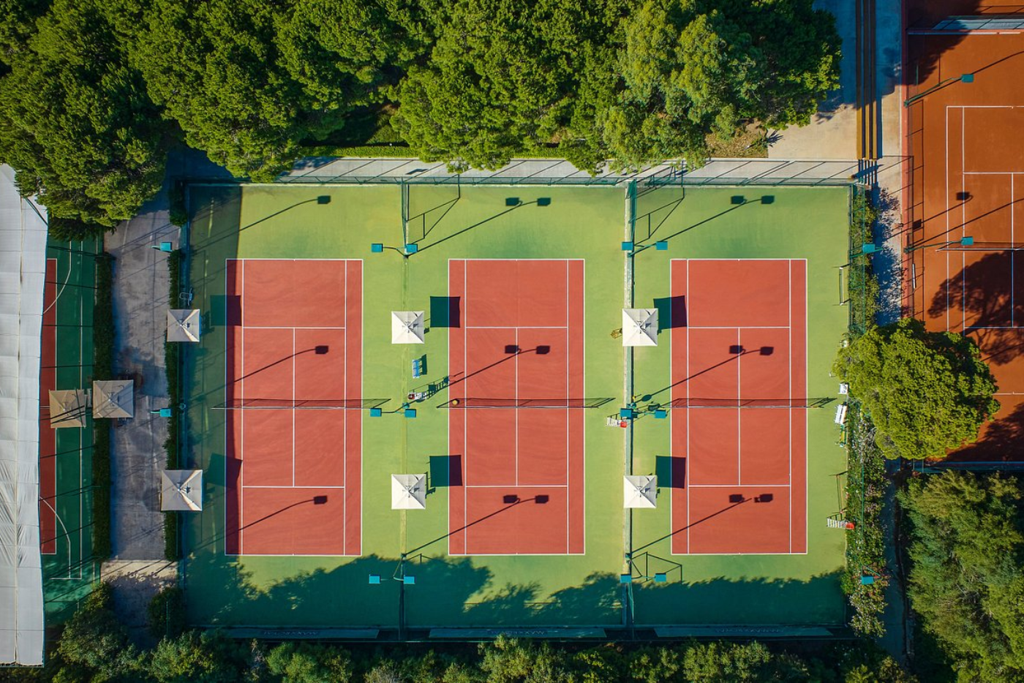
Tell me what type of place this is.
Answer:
sports ground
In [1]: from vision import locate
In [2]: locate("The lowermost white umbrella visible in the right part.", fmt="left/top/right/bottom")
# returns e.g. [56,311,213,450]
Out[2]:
[623,473,657,507]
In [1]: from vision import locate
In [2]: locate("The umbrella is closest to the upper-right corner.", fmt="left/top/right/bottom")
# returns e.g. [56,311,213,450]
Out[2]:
[622,309,658,345]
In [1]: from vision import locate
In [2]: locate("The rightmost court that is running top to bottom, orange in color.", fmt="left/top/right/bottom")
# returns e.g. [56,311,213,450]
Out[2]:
[909,34,1024,462]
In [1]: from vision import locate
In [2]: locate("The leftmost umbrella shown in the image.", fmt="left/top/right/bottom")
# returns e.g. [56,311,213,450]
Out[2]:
[51,389,89,427]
